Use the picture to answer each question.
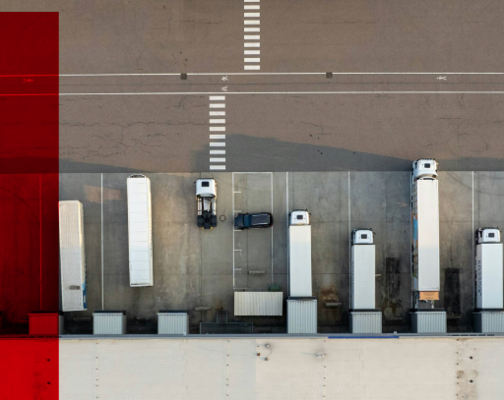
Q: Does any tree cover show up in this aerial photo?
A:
No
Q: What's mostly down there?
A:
paved ground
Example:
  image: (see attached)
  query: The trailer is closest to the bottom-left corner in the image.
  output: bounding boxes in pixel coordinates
[59,201,89,313]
